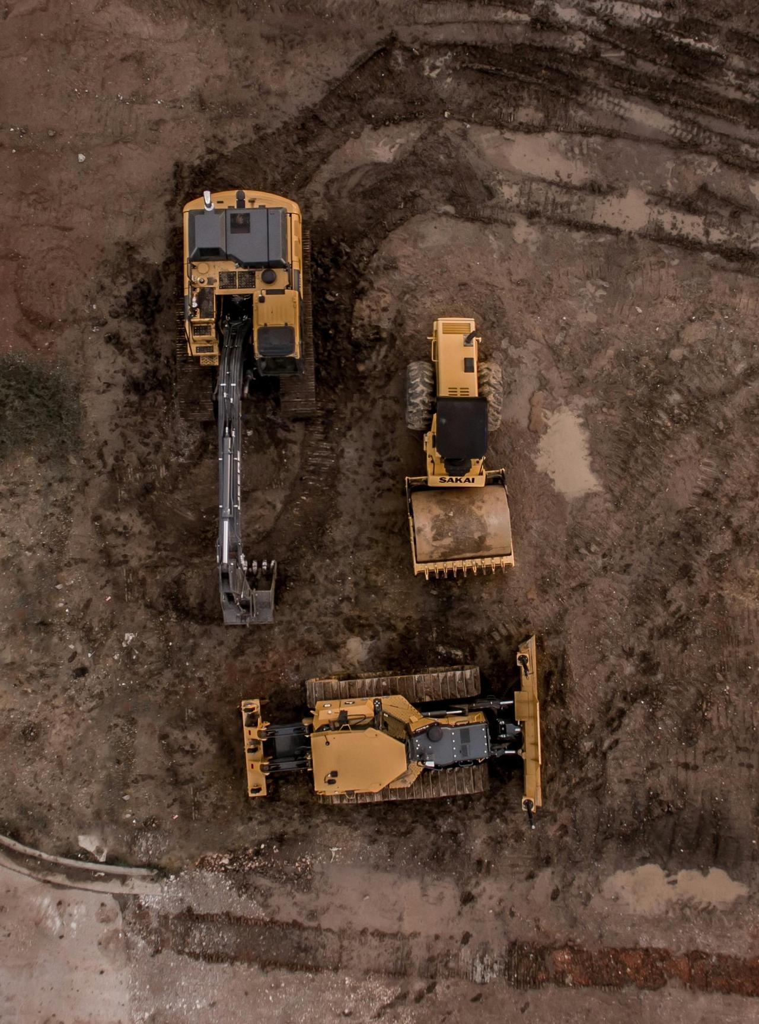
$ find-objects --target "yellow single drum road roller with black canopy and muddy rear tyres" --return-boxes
[405,318,516,582]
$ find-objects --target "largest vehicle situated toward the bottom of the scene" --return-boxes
[242,629,542,829]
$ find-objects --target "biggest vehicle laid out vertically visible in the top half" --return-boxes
[177,190,318,629]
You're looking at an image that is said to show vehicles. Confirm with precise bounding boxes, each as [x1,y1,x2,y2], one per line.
[177,190,318,629]
[405,318,516,582]
[242,629,542,829]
